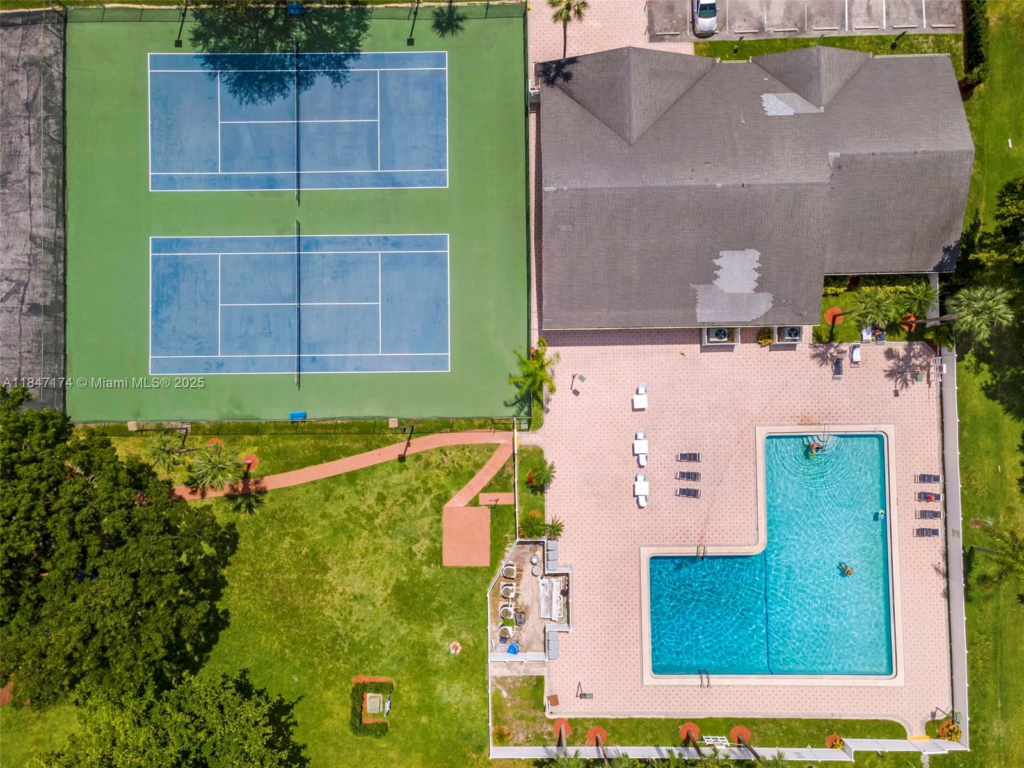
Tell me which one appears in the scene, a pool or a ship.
pool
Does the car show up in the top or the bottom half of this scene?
top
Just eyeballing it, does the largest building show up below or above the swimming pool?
above it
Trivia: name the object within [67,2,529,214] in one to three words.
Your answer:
tennis court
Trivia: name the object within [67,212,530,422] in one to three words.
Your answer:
tennis court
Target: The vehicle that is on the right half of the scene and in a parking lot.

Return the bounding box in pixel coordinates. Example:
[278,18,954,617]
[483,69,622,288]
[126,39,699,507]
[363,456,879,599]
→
[693,0,722,38]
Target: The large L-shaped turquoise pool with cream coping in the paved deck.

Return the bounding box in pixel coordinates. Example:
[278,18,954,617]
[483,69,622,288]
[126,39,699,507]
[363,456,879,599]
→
[640,425,904,686]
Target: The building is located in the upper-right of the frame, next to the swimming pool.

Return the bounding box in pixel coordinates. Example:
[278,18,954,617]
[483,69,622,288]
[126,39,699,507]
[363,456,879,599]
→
[533,46,975,332]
